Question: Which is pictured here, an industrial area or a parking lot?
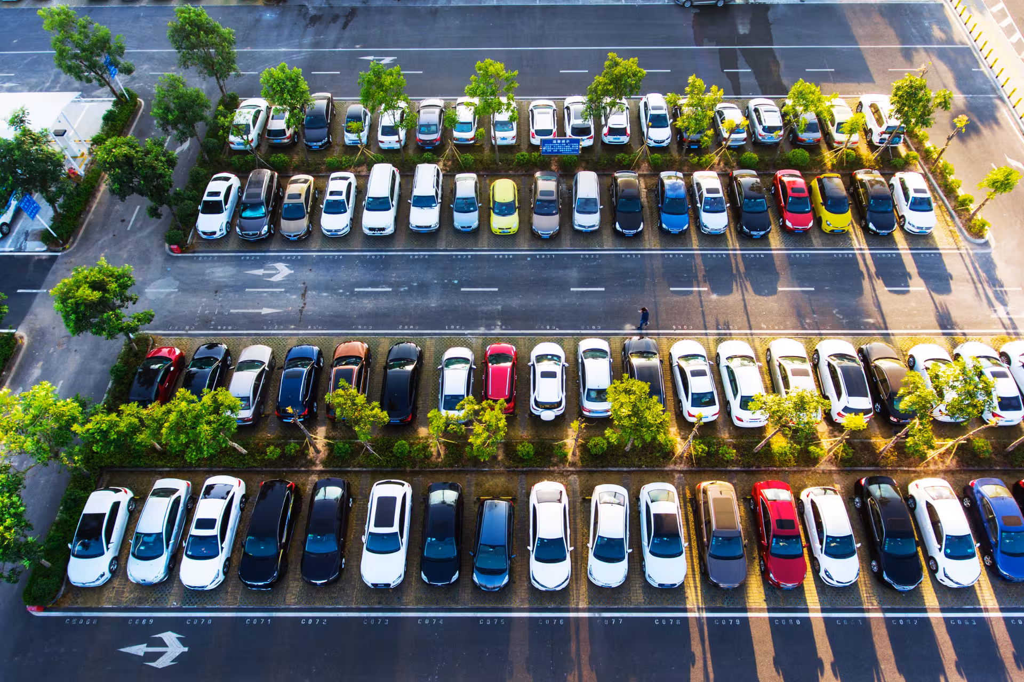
parking lot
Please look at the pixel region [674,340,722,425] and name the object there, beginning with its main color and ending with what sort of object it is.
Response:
white car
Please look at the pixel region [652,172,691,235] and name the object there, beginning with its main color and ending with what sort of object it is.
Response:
blue car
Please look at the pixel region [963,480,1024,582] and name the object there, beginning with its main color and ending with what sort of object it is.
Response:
blue car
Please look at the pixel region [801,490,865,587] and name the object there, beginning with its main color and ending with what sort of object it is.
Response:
white car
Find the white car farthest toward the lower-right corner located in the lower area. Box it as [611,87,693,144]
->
[907,480,980,588]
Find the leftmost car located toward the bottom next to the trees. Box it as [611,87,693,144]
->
[63,491,133,588]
